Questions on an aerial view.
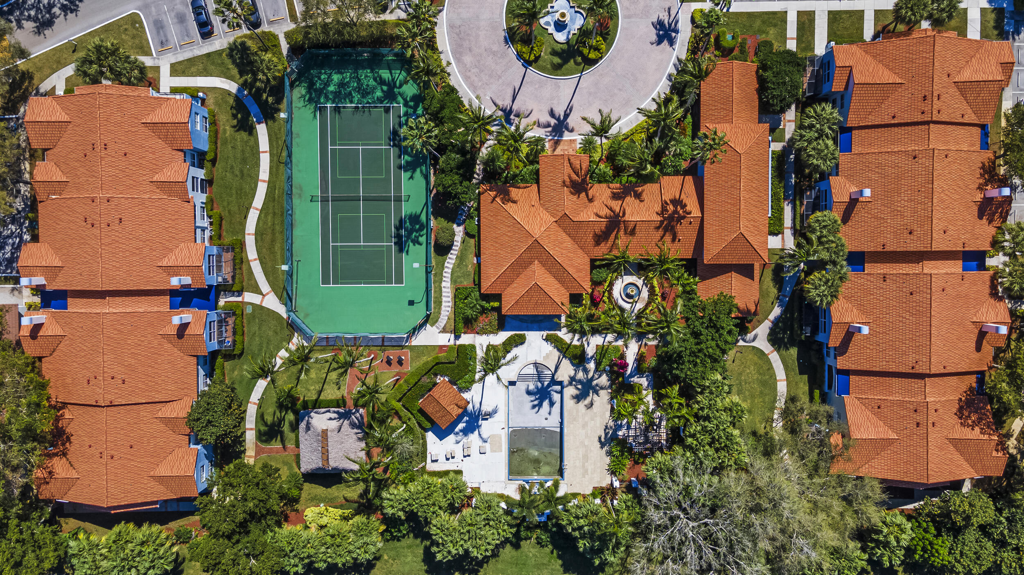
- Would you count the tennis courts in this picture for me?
one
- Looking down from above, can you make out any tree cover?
Yes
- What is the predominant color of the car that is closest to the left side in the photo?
blue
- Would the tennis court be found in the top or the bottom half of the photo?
top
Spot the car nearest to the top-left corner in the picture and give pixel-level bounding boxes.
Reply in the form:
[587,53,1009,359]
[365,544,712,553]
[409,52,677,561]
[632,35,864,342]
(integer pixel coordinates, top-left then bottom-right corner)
[190,0,215,36]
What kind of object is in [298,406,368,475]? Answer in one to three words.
shed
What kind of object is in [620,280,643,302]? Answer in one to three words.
fountain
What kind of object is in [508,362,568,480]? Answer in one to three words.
swimming pool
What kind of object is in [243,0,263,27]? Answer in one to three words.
car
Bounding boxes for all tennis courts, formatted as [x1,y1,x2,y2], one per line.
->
[292,56,431,333]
